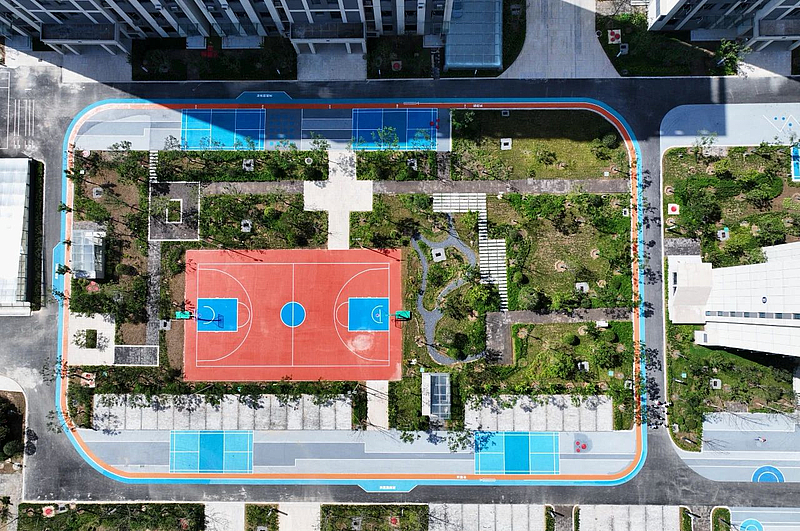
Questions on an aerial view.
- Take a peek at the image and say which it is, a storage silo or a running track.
running track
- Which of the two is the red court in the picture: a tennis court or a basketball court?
basketball court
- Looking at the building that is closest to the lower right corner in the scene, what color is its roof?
white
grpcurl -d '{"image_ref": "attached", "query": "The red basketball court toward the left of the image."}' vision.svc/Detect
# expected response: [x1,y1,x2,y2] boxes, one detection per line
[184,250,402,382]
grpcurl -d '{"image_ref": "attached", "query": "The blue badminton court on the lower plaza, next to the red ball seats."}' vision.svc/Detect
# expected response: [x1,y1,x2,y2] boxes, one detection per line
[474,431,559,474]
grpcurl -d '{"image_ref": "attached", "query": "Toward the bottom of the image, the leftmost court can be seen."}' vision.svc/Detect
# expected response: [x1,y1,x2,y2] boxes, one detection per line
[170,430,253,473]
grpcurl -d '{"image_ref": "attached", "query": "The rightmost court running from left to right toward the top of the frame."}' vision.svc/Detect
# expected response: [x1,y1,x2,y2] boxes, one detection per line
[352,109,438,151]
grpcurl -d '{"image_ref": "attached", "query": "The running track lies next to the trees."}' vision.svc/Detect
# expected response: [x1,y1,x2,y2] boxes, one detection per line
[52,91,647,493]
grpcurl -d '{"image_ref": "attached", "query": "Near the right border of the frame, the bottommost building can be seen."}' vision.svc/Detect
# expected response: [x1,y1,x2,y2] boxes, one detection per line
[666,241,800,361]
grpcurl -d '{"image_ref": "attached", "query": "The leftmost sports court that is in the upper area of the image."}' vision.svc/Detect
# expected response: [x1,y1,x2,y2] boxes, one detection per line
[181,109,266,151]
